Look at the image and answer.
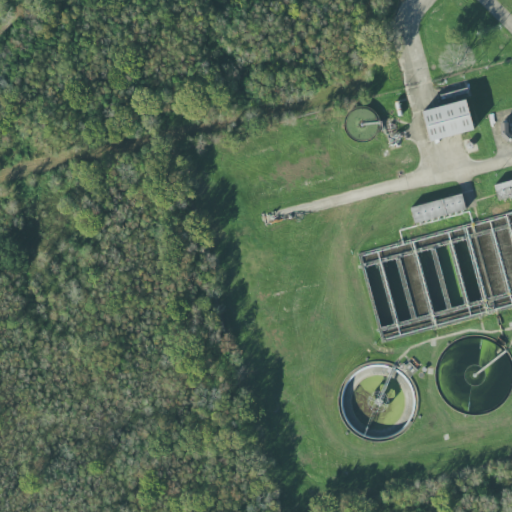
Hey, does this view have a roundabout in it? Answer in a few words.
No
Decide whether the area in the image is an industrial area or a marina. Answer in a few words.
industrial area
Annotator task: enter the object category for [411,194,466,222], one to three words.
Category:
building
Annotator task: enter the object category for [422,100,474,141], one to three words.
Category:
building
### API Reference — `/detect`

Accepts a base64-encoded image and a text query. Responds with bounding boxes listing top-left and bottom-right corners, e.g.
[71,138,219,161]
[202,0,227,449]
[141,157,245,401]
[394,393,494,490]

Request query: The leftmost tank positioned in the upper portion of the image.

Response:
[346,107,383,141]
